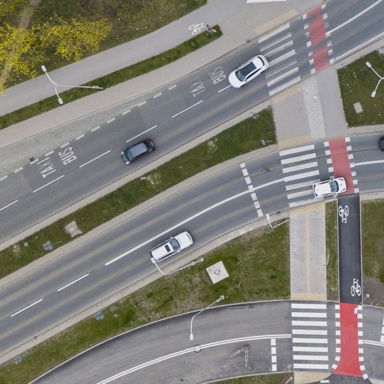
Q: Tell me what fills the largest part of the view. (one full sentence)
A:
The scene is dominated by paved ground.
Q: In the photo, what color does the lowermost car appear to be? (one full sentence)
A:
The color of the lowermost car is white.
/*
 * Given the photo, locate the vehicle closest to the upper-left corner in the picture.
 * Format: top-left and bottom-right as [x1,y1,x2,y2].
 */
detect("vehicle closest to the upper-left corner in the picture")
[120,138,158,164]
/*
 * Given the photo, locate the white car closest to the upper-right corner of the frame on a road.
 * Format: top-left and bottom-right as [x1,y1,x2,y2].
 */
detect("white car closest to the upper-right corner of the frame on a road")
[229,56,269,88]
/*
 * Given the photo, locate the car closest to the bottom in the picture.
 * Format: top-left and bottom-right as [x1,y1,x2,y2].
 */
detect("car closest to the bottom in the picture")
[150,230,195,263]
